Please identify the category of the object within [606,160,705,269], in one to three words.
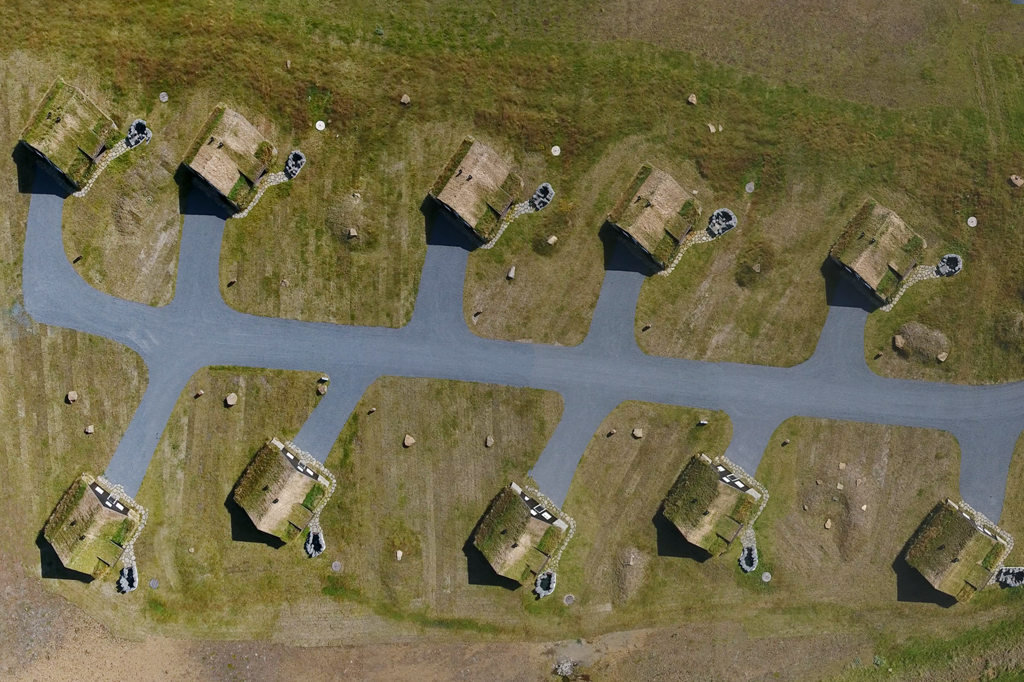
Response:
house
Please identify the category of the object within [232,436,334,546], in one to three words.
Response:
house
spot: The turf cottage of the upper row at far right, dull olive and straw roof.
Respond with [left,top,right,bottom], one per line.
[829,196,927,303]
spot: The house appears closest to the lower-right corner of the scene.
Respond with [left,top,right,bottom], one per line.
[906,496,1005,606]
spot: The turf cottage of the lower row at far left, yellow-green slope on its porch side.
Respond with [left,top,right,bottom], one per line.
[42,471,146,582]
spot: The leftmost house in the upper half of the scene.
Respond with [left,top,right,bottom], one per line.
[18,76,122,188]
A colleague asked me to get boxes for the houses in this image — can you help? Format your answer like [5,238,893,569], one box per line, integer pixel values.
[428,134,528,243]
[232,436,334,546]
[42,471,146,582]
[471,479,571,589]
[829,196,927,303]
[906,496,1005,606]
[606,160,705,269]
[18,76,122,188]
[180,100,282,211]
[661,449,761,559]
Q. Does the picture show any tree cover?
No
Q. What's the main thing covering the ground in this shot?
grass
